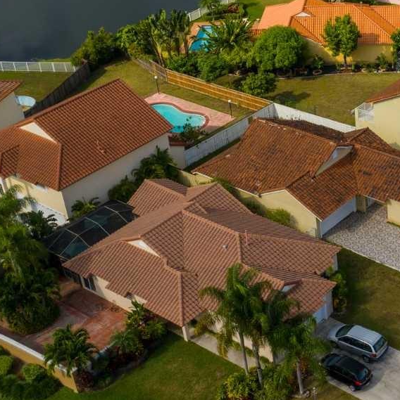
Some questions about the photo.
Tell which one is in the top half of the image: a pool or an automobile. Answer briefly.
pool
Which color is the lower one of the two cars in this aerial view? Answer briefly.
black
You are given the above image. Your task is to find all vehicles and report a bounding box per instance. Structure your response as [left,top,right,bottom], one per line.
[318,355,376,392]
[326,324,391,366]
